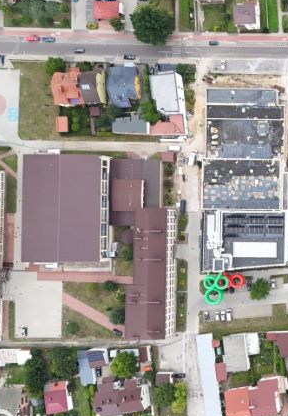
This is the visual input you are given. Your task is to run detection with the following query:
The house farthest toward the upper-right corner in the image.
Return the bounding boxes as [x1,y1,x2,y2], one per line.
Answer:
[233,0,259,28]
